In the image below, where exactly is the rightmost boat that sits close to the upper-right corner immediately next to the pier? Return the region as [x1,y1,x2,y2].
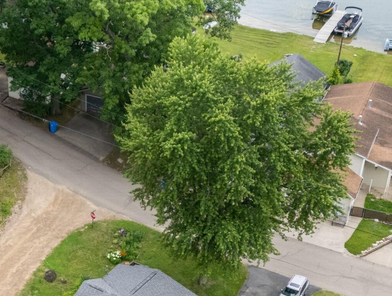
[335,5,364,34]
